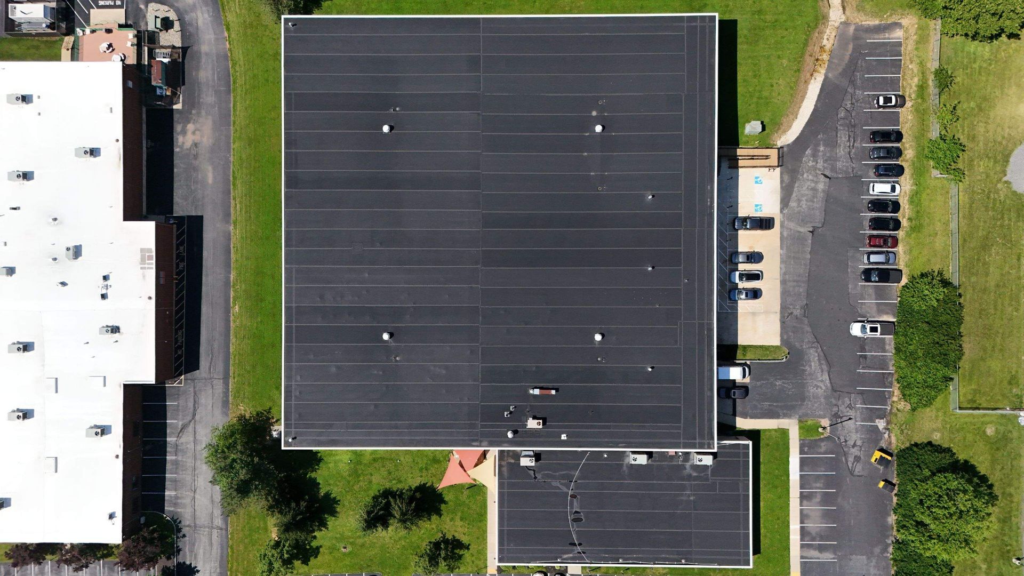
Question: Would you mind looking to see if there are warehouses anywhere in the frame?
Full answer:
Yes, a warehouse appears in the view.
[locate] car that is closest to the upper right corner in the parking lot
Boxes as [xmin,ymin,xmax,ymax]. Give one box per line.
[873,93,905,109]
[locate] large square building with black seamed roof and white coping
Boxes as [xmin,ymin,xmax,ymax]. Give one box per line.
[282,13,717,450]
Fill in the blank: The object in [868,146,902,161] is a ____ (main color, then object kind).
black car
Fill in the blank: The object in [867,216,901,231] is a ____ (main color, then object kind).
black car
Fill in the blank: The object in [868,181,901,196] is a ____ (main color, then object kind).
white car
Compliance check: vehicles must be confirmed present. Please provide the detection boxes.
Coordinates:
[552,570,564,576]
[732,214,776,231]
[865,234,899,249]
[867,216,901,231]
[868,181,901,196]
[873,93,905,109]
[868,146,902,161]
[859,267,905,284]
[717,385,749,400]
[862,250,896,266]
[872,162,905,178]
[866,198,900,213]
[868,129,903,144]
[715,364,750,381]
[729,268,764,284]
[728,287,764,302]
[730,250,764,265]
[848,320,897,337]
